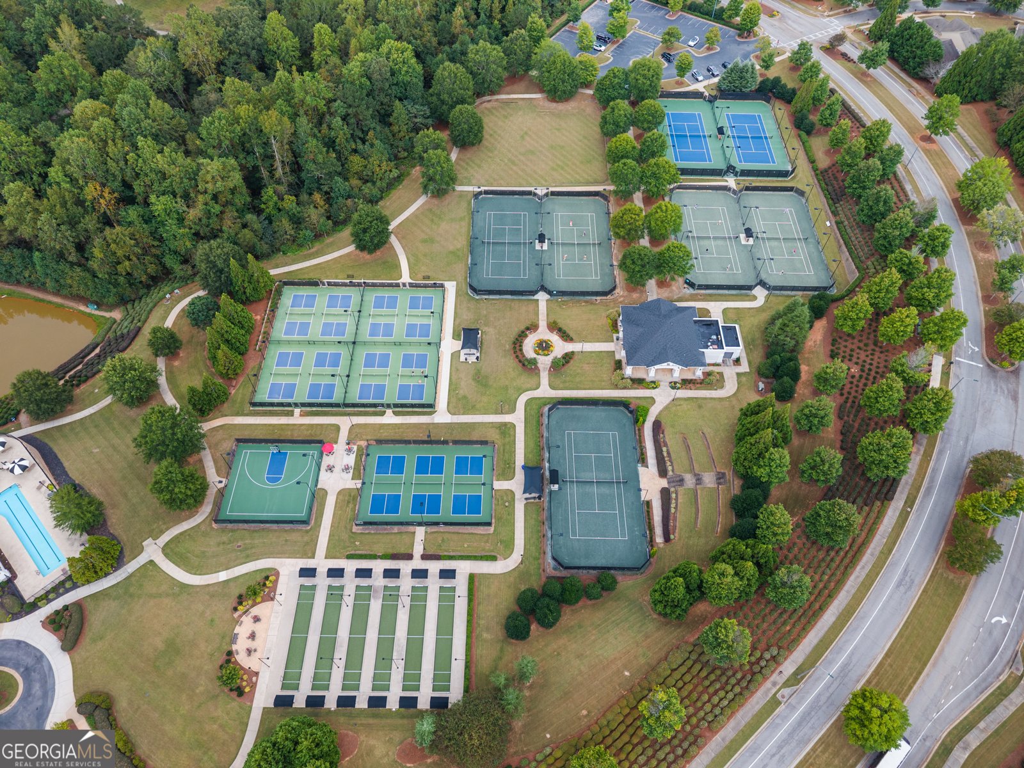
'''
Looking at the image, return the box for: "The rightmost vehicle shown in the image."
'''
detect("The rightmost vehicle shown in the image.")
[873,741,914,768]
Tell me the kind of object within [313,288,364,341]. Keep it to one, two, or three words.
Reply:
sports court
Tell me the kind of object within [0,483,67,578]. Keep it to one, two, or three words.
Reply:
swimming pool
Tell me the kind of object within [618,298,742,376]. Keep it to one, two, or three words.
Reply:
building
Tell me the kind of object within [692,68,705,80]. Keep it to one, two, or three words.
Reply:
vehicle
